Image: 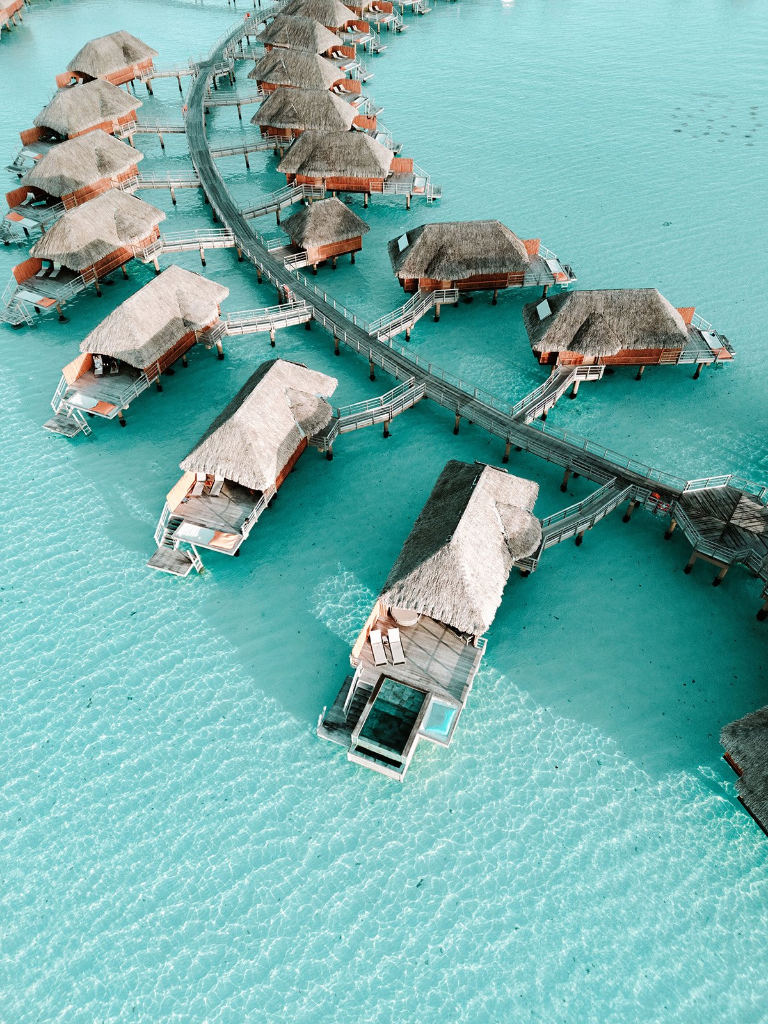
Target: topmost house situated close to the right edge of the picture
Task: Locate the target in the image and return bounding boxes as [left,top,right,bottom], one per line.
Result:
[519,289,731,399]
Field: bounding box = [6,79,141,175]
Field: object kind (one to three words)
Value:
house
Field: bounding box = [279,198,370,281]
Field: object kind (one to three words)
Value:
shed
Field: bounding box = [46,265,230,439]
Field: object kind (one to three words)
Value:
house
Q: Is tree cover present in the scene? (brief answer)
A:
No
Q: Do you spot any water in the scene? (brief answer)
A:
Yes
